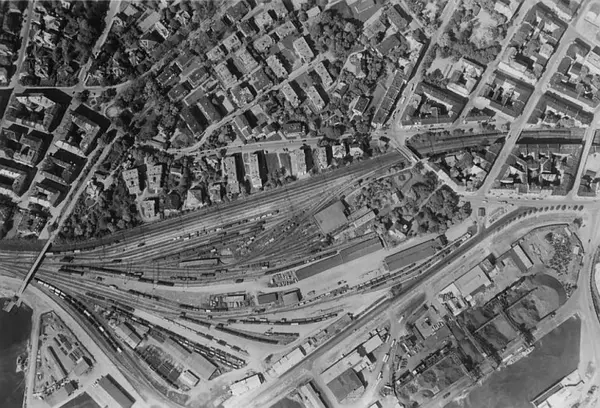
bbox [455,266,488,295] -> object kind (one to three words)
building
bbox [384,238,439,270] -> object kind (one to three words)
building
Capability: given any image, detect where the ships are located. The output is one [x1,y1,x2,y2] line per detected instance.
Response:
[509,347,536,366]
